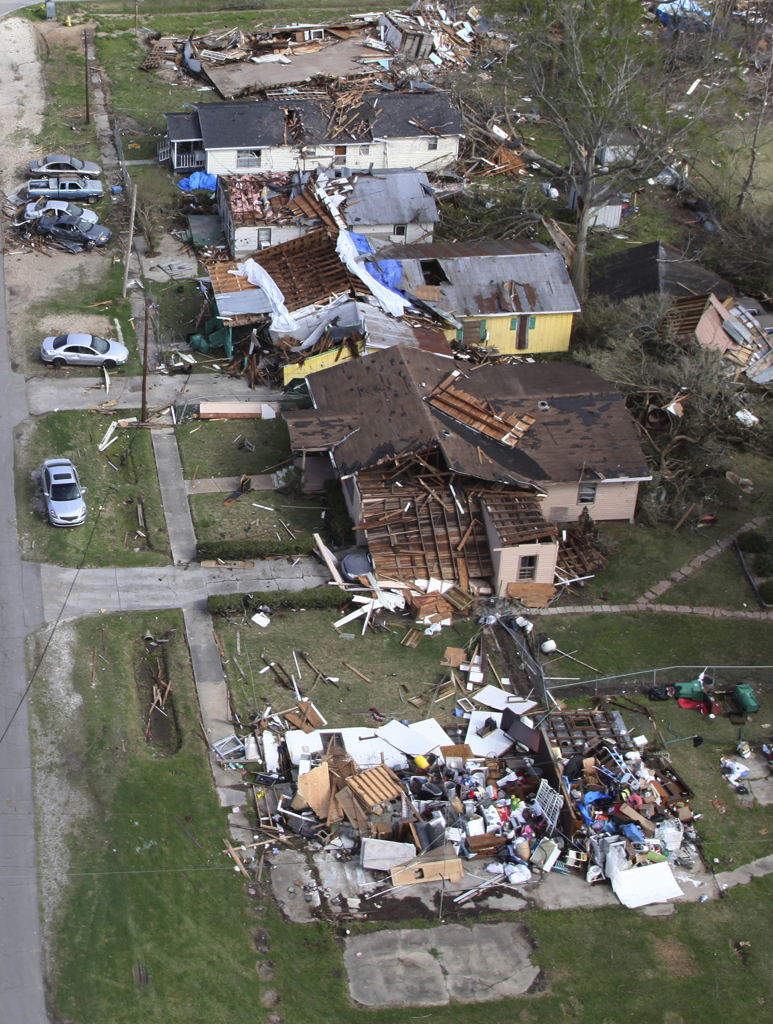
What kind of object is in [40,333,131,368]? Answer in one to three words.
car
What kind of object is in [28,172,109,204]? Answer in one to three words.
truck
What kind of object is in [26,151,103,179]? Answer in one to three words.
car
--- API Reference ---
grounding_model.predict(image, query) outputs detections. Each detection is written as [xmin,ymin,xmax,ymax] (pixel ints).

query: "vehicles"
[40,333,131,368]
[36,213,114,247]
[26,151,103,179]
[28,172,109,204]
[41,463,88,526]
[22,200,101,227]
